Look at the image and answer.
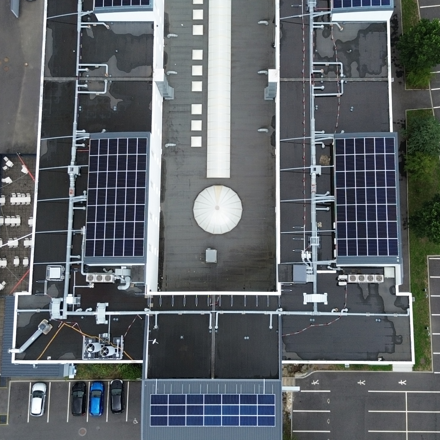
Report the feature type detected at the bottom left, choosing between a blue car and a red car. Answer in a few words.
blue car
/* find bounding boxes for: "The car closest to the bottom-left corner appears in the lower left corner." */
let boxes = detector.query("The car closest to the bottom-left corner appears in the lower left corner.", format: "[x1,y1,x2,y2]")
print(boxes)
[30,383,48,417]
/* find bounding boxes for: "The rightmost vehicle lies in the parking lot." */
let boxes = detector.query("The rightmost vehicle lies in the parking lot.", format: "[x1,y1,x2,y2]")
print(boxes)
[109,379,126,413]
